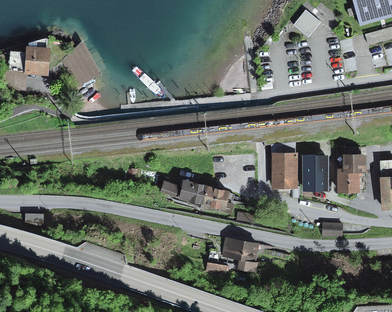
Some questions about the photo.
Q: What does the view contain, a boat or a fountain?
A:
boat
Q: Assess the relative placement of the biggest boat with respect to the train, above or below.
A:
above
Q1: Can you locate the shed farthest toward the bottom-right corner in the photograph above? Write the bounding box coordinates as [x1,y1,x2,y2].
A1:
[322,222,343,237]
